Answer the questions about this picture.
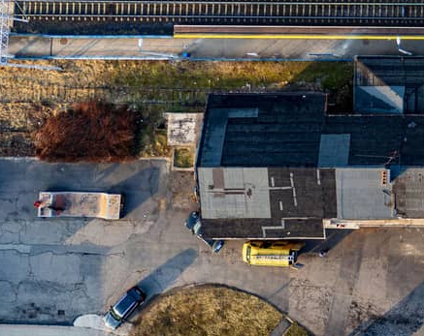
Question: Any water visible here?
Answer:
No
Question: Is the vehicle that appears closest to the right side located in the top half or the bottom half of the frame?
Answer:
bottom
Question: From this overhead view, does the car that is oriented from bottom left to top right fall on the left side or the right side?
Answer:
left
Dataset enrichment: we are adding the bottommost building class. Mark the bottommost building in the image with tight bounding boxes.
[195,92,424,240]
